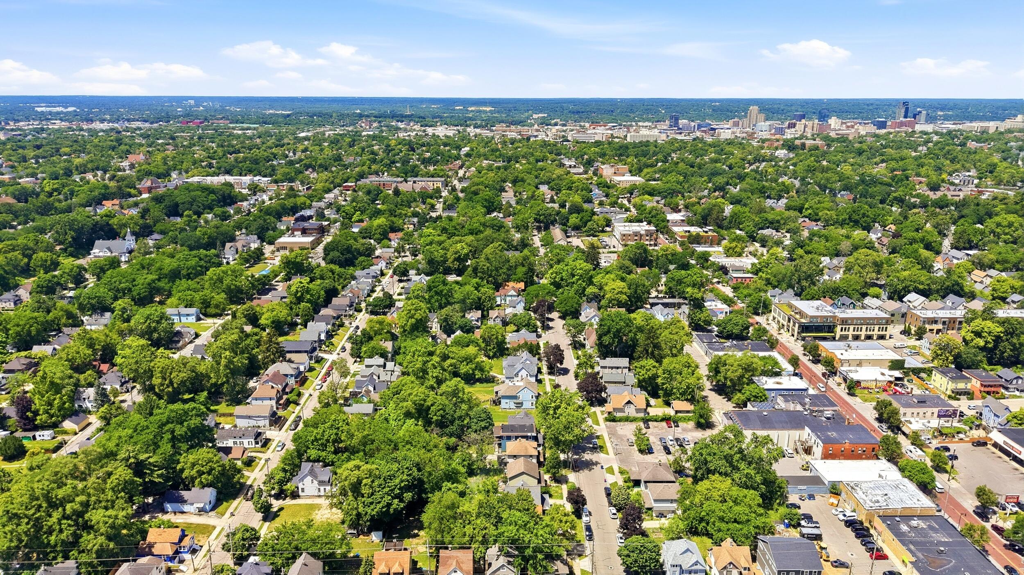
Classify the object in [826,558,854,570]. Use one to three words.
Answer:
vehicle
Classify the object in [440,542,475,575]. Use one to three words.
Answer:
house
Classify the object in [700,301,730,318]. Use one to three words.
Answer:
building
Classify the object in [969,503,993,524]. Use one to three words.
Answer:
vehicle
